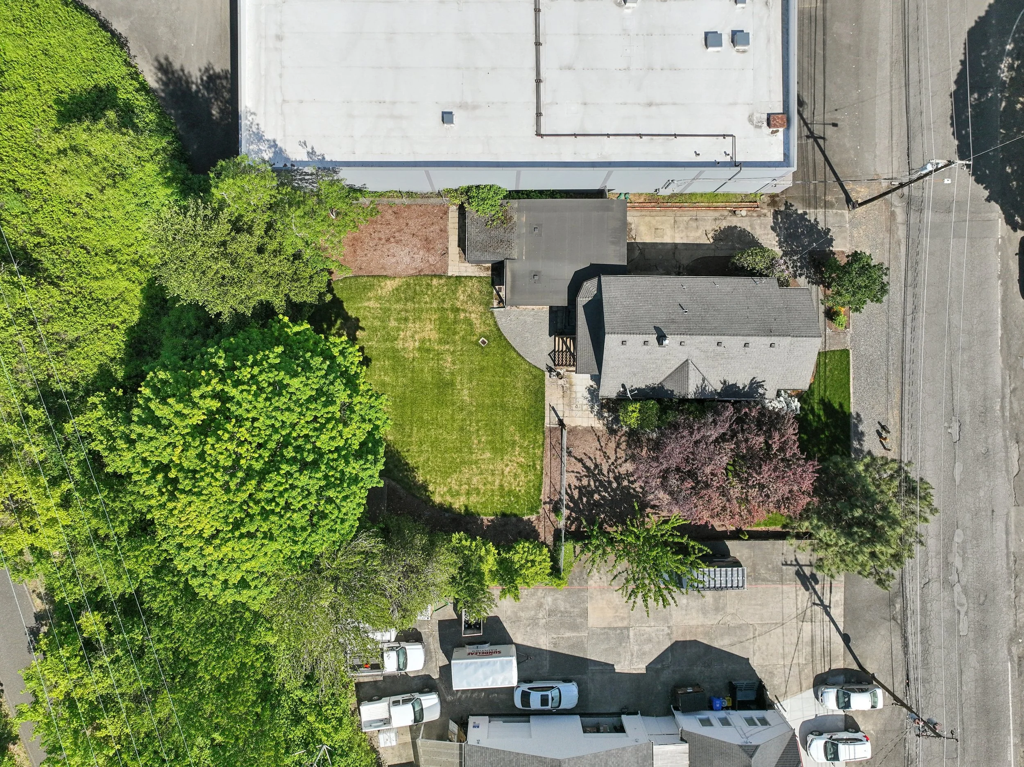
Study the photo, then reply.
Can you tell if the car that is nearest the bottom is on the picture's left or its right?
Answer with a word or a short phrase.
right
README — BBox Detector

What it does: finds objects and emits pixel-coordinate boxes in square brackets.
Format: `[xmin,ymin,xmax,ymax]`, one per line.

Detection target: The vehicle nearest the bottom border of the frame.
[809,729,873,764]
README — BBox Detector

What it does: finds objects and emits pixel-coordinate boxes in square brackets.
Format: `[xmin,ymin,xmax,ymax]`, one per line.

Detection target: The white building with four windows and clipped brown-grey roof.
[671,706,794,767]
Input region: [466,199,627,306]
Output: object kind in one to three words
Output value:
building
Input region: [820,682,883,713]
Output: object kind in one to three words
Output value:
car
